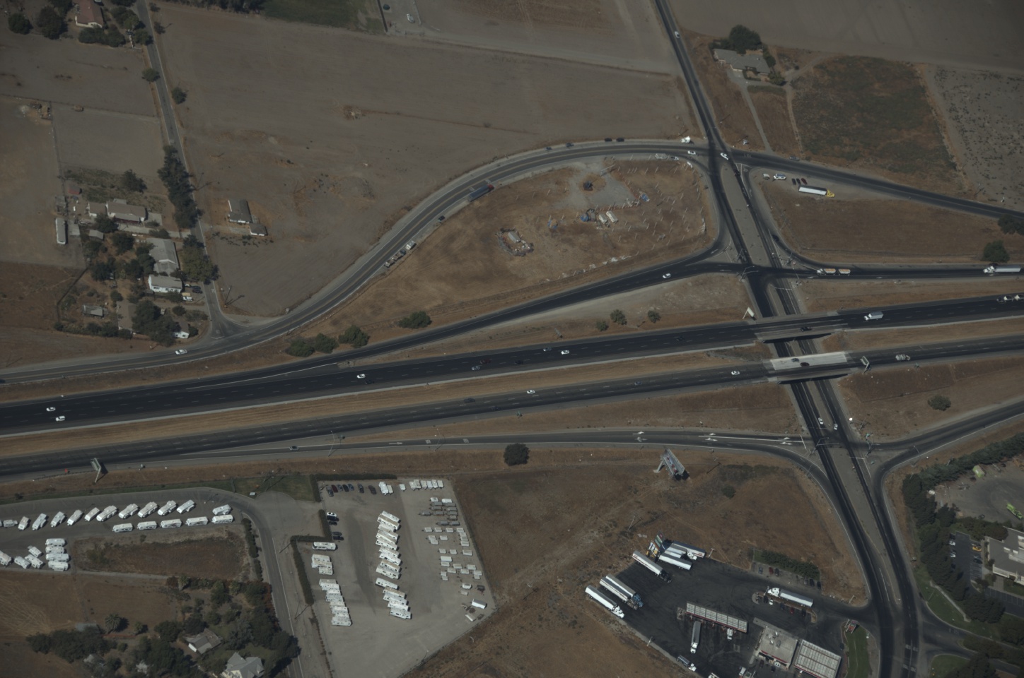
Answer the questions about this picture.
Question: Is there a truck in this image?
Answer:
Yes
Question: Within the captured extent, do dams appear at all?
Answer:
No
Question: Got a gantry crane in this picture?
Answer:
No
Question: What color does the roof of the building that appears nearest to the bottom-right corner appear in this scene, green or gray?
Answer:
gray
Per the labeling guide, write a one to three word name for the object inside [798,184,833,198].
vehicle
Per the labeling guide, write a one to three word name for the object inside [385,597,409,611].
camper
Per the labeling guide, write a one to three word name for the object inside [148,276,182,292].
house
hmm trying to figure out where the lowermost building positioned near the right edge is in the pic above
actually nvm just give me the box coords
[990,544,1024,592]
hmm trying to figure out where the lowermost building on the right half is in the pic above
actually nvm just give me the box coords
[757,627,806,674]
